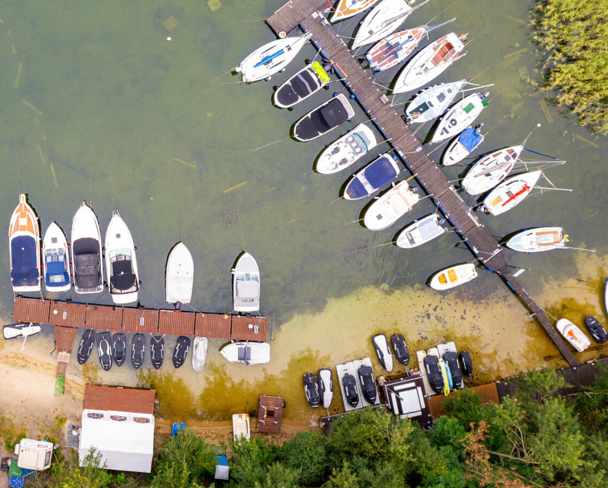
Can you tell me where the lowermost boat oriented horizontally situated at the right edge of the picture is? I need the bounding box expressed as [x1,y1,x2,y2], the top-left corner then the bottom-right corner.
[499,226,598,254]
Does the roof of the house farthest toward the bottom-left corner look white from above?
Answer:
Yes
